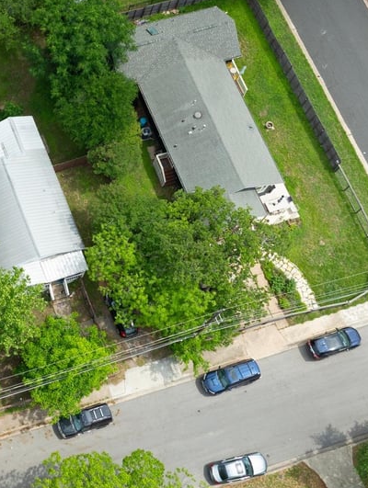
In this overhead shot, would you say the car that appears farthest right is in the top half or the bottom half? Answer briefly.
bottom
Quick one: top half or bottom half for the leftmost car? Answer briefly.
bottom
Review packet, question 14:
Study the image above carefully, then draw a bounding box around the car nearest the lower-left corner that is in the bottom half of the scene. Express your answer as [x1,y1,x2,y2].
[55,403,114,440]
